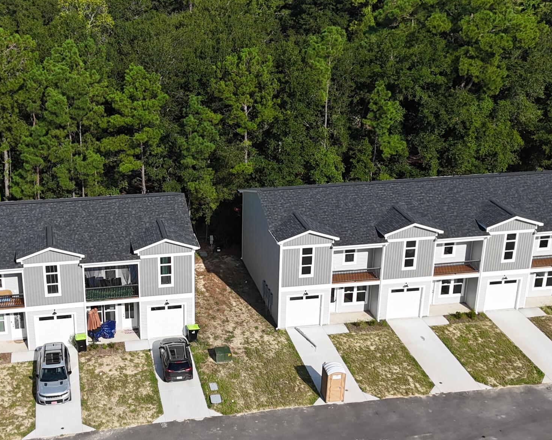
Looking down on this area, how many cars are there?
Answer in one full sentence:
Looking from above, you can make out 2 cars.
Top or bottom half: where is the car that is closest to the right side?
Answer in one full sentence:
You can find the car that is closest to the right side in the bottom half.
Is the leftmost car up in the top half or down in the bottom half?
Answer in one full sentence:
You can find the leftmost car in the bottom half.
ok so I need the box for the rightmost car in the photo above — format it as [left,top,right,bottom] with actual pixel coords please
[158,339,192,383]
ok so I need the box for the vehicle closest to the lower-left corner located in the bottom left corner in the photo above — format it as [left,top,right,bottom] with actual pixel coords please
[35,346,74,406]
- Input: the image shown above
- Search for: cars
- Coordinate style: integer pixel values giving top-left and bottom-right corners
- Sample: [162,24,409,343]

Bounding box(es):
[158,339,192,383]
[35,346,74,406]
